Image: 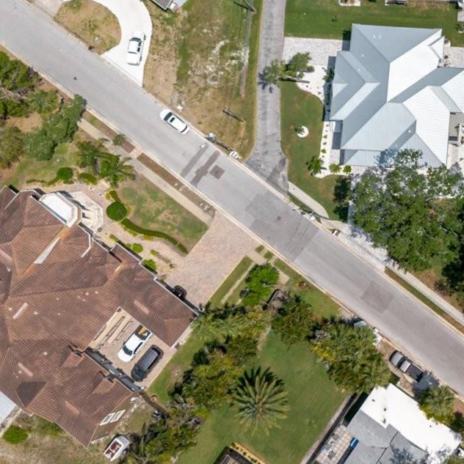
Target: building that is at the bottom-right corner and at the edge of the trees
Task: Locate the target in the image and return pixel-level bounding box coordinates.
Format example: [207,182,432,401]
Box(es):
[335,383,462,464]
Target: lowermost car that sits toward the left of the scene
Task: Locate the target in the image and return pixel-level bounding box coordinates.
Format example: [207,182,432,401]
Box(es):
[132,345,165,382]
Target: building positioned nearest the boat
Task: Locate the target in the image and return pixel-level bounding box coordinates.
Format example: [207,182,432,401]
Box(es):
[0,187,207,448]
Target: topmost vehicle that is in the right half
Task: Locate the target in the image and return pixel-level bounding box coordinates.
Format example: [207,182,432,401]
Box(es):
[390,351,426,384]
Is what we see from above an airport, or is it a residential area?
residential area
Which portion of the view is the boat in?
bottom left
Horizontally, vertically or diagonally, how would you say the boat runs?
diagonally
